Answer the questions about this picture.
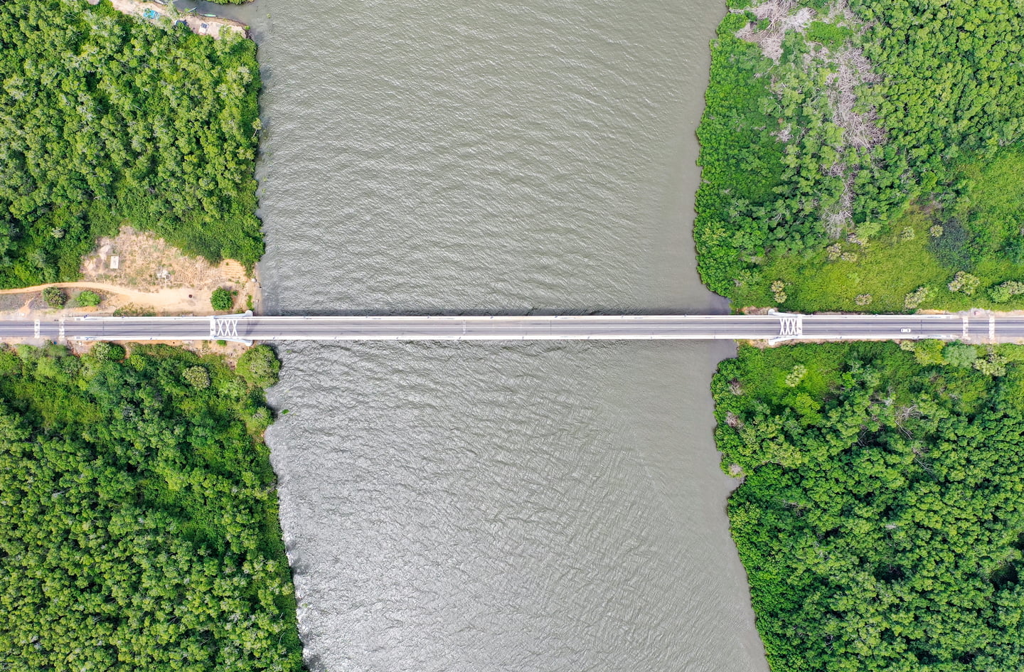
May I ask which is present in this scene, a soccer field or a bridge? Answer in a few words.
bridge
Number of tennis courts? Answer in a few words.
none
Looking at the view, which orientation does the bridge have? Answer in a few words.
horizontally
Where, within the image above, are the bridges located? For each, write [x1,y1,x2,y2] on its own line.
[66,309,961,345]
